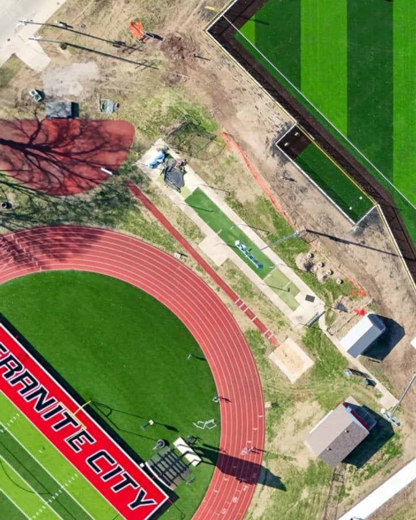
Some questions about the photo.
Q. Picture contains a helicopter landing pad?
No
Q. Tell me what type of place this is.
sports ground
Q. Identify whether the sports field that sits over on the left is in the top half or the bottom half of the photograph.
bottom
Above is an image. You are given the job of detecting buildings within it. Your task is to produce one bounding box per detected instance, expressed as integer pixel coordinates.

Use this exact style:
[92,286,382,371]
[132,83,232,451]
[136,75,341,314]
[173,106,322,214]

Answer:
[307,395,371,467]
[46,100,76,118]
[340,311,387,357]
